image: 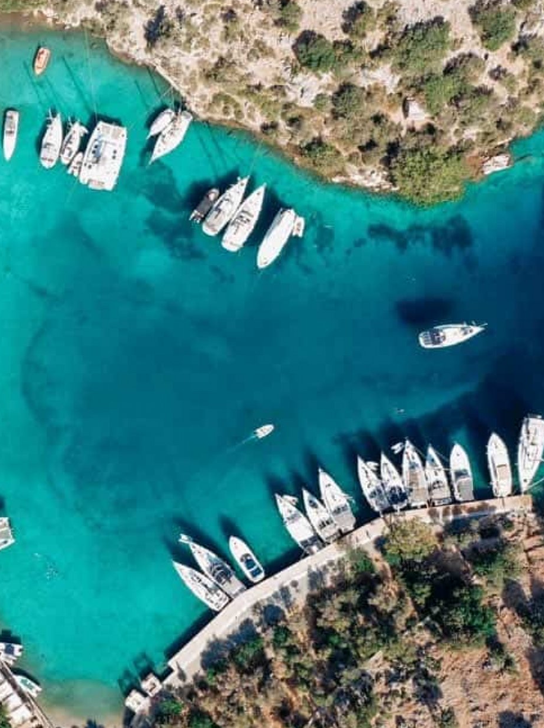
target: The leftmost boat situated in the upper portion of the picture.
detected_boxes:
[1,108,18,160]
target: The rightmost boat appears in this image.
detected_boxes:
[513,414,544,494]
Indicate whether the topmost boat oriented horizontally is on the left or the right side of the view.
right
